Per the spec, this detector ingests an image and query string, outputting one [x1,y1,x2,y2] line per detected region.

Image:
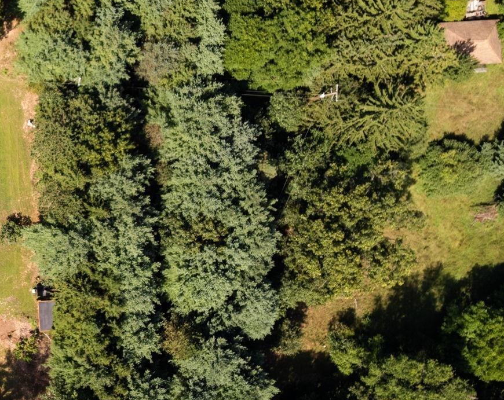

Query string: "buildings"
[431,20,503,65]
[38,300,56,332]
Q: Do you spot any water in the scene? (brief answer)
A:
No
